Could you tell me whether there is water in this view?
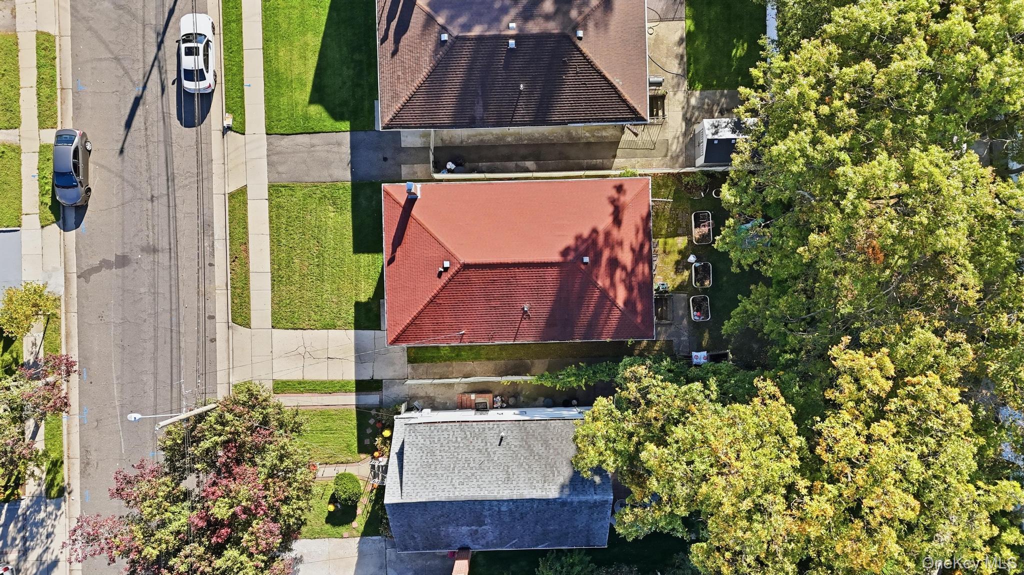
No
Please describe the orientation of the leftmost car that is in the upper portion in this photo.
up and down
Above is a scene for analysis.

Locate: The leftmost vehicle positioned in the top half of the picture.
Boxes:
[50,127,91,206]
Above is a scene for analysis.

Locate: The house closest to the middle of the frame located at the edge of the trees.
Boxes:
[380,174,657,348]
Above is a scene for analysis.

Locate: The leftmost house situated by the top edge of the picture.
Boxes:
[374,0,651,132]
